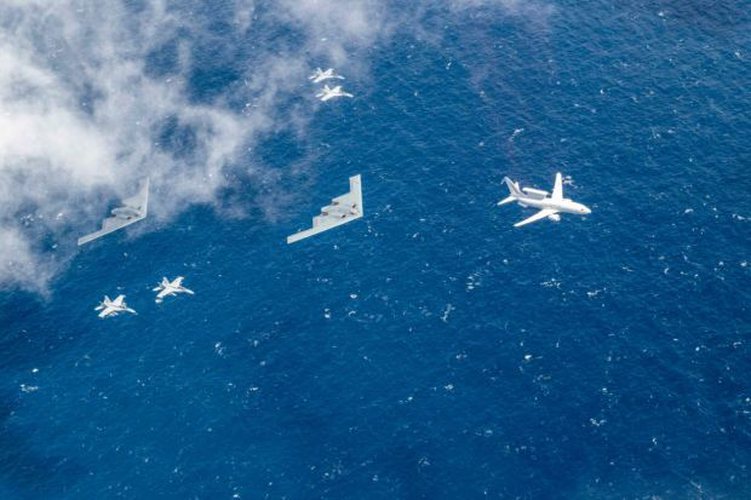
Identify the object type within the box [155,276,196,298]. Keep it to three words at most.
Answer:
airplane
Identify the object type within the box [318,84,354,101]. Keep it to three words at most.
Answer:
airplane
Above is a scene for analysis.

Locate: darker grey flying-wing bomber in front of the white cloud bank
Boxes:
[78,177,148,245]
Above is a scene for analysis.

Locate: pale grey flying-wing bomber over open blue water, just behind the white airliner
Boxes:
[287,176,362,243]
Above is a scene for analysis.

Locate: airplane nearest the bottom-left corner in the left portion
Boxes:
[97,295,139,318]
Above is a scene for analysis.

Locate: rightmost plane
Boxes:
[498,174,590,227]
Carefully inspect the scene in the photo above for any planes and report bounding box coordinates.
[498,174,590,227]
[287,176,362,243]
[78,177,148,245]
[318,84,354,101]
[97,295,139,318]
[311,67,345,83]
[155,276,196,298]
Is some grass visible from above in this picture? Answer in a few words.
No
